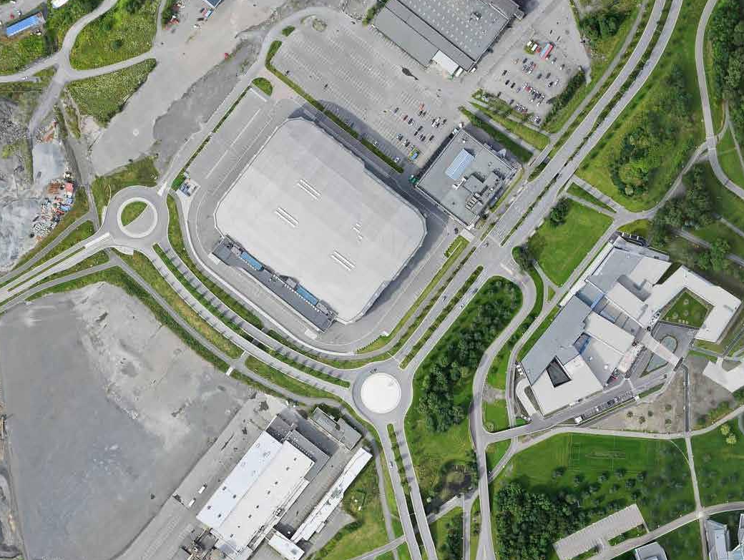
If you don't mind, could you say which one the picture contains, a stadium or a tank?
stadium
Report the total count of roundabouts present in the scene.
2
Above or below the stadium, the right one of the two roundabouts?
below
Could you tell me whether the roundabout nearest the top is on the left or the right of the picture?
left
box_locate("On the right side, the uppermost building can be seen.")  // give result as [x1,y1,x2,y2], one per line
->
[374,0,526,74]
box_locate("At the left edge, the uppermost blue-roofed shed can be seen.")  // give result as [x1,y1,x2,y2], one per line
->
[6,13,46,37]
